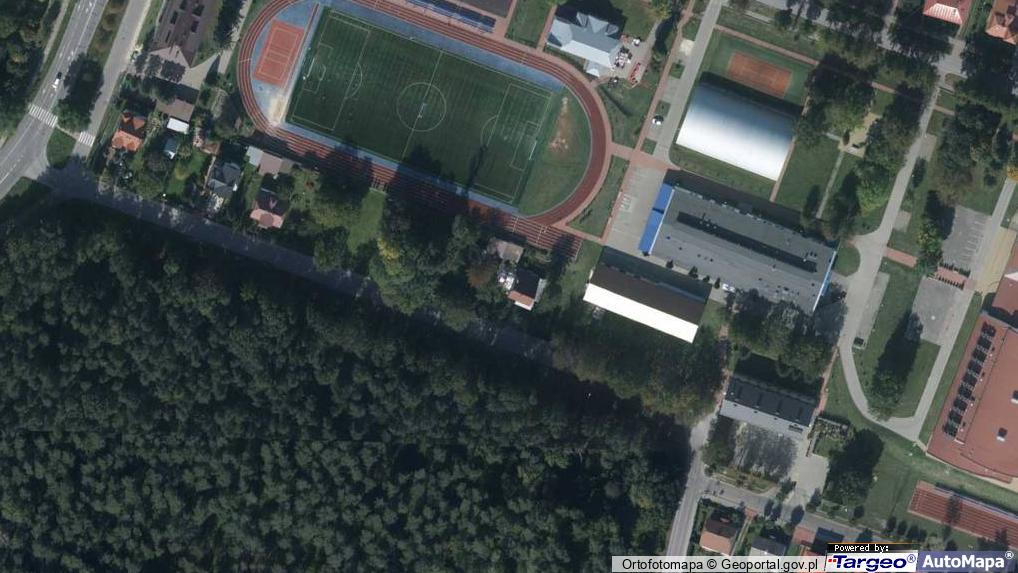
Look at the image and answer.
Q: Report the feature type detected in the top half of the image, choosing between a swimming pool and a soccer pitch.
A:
soccer pitch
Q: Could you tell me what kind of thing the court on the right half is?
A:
tennis court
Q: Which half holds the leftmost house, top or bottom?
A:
top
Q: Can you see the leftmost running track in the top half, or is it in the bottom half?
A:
top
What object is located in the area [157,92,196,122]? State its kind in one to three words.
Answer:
building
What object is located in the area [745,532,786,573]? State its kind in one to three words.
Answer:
house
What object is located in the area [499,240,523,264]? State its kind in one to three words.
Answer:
shed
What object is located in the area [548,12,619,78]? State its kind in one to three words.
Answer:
building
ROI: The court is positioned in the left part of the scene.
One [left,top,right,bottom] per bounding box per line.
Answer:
[254,20,304,88]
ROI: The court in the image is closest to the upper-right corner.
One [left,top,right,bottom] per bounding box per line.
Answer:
[701,29,818,121]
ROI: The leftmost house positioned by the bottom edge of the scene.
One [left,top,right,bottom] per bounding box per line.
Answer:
[700,510,741,555]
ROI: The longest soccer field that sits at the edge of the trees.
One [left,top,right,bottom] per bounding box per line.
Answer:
[283,7,561,208]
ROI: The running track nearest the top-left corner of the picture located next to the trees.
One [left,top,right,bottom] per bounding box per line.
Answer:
[240,0,605,257]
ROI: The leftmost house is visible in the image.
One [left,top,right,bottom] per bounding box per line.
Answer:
[112,112,147,151]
